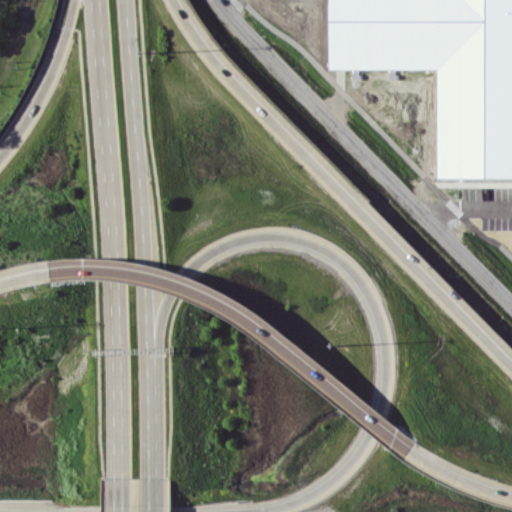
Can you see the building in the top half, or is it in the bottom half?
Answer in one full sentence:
The building sits in the top half of the picture.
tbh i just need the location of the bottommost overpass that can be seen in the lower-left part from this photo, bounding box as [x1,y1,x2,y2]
[102,478,172,512]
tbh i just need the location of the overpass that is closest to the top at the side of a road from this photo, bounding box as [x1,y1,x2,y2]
[48,258,414,461]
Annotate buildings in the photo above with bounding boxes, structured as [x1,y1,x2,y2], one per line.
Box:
[328,0,512,180]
